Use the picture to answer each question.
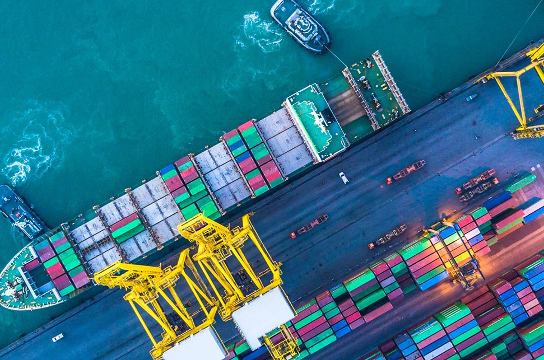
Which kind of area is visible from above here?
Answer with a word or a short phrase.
port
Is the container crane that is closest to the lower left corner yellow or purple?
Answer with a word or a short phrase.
yellow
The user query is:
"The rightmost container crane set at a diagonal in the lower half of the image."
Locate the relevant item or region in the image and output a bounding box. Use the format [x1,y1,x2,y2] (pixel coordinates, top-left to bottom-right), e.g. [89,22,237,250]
[422,215,487,291]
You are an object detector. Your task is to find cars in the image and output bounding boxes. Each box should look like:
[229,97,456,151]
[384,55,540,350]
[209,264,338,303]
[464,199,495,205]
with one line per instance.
[51,333,64,342]
[338,172,349,184]
[465,92,478,101]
